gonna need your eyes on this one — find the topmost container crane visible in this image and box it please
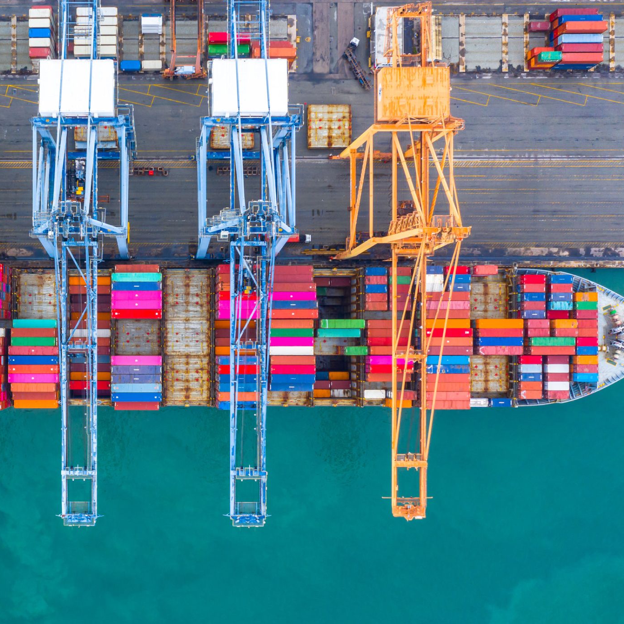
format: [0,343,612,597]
[162,0,208,78]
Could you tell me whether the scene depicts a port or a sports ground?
port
